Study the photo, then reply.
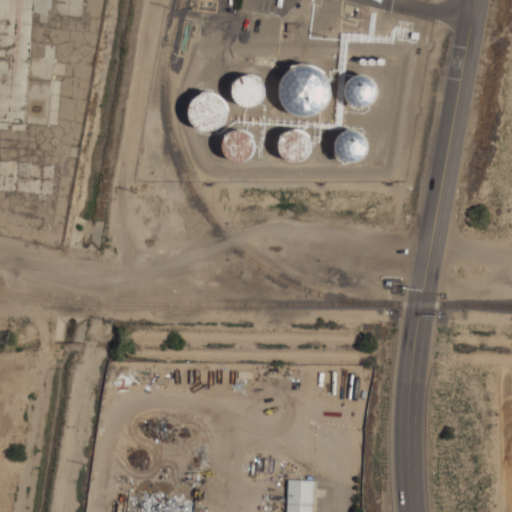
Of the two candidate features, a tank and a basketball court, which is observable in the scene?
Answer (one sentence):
Of the two, only a tank appears.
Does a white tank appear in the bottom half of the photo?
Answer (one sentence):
No, in the bottom half of the photo there is no white tank.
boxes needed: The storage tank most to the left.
[186,90,230,132]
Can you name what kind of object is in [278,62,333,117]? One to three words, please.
storage tank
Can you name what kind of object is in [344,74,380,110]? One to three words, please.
storage tank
